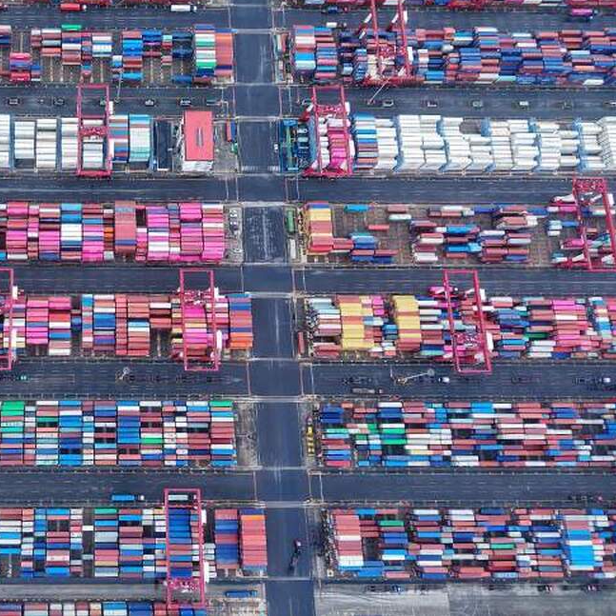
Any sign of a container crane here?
Yes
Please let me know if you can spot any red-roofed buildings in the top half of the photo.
Yes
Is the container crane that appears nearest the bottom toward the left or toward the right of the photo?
left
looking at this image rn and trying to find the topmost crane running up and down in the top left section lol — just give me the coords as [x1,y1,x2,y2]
[69,86,116,176]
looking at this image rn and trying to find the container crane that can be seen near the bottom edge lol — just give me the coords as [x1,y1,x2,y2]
[153,490,213,606]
